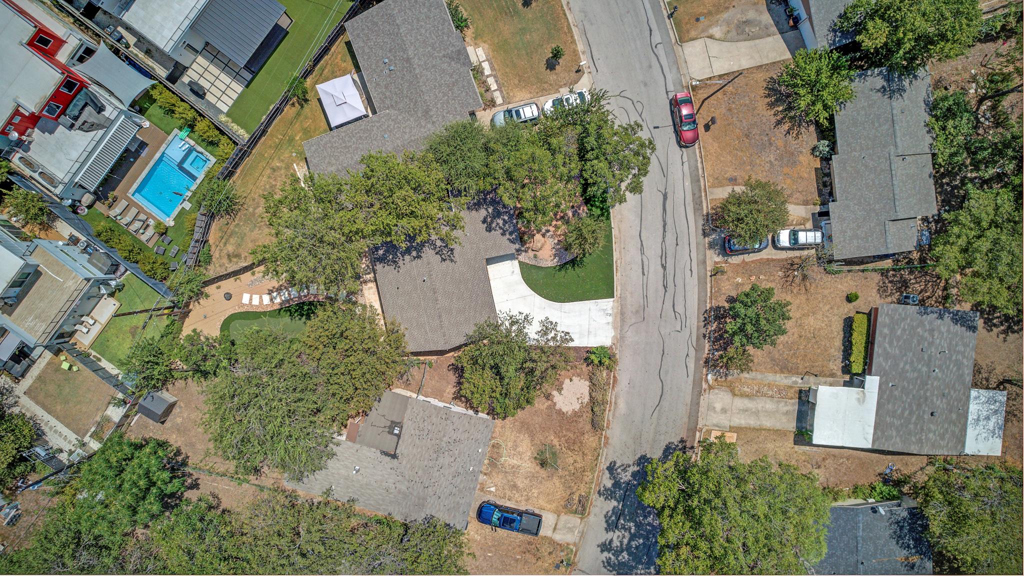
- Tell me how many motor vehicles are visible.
6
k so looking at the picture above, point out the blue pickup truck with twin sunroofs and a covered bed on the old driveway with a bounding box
[476,498,546,537]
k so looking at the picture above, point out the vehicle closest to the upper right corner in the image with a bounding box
[775,224,825,253]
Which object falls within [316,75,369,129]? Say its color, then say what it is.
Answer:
white gazebo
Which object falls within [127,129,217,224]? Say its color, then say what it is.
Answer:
blue swimming pool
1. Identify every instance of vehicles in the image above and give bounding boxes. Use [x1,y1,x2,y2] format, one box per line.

[490,98,541,130]
[541,83,593,118]
[775,224,825,253]
[476,498,546,537]
[724,231,769,258]
[668,92,701,148]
